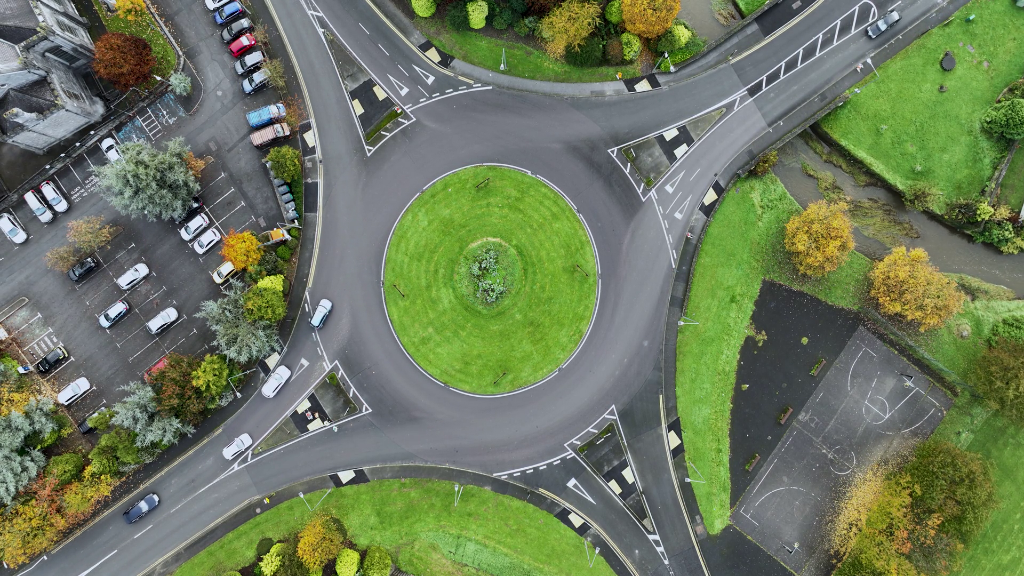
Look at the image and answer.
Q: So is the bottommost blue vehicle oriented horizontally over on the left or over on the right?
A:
left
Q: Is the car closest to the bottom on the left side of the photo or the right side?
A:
left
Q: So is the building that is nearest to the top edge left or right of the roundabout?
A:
left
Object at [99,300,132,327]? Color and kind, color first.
white car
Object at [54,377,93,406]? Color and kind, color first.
white car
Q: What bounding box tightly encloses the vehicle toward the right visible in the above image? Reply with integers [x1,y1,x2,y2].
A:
[864,9,904,40]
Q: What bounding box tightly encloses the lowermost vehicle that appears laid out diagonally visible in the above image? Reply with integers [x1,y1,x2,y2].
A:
[121,493,161,525]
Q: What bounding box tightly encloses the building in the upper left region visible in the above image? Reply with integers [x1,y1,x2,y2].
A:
[0,0,107,153]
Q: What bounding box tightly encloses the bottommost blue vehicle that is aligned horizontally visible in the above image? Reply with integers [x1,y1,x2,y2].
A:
[245,103,289,128]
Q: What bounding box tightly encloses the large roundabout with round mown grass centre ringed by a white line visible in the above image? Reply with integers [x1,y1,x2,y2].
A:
[305,88,768,474]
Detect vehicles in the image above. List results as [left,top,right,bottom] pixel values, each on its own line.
[206,0,238,12]
[260,365,292,399]
[23,189,55,224]
[145,307,181,334]
[39,179,71,215]
[67,256,101,282]
[211,261,240,284]
[310,297,333,330]
[54,377,93,406]
[121,493,161,525]
[193,228,225,255]
[233,50,269,75]
[249,125,293,150]
[116,264,152,290]
[864,9,904,40]
[181,214,212,240]
[220,433,254,461]
[73,409,107,436]
[99,300,132,327]
[102,135,125,161]
[228,34,259,56]
[243,69,273,94]
[172,196,207,224]
[0,211,30,245]
[245,103,289,128]
[37,346,71,373]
